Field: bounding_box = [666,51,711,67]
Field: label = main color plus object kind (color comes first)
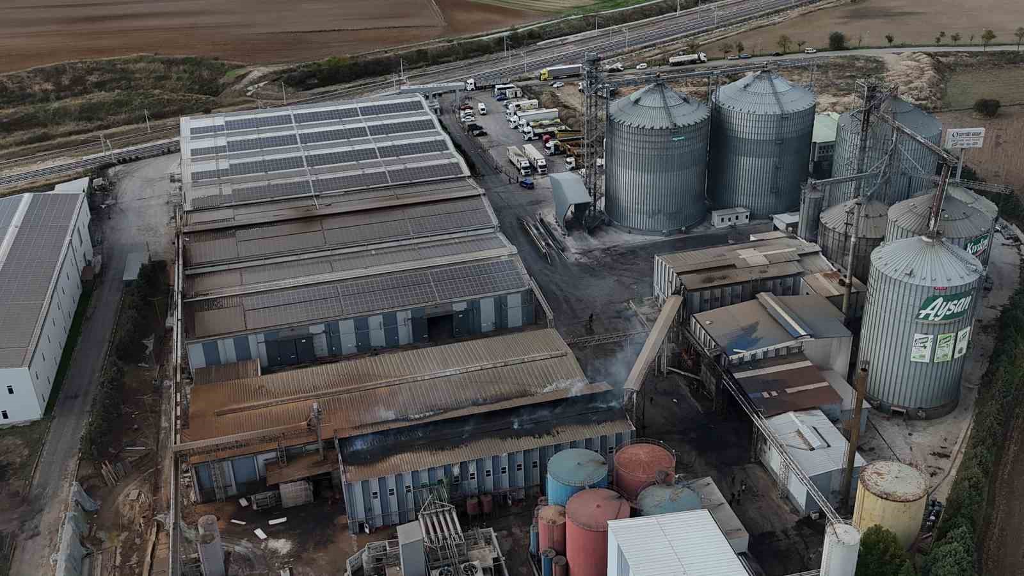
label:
white vehicle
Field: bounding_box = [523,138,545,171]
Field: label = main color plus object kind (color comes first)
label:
white truck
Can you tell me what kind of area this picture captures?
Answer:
industrial area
